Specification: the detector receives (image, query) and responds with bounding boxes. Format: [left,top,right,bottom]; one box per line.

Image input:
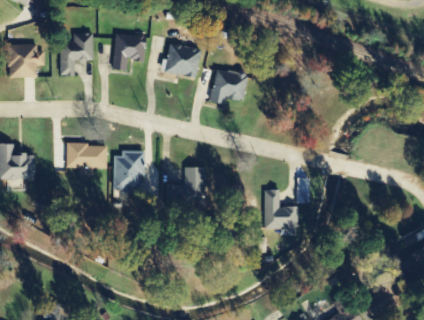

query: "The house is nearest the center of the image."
[164,167,204,200]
